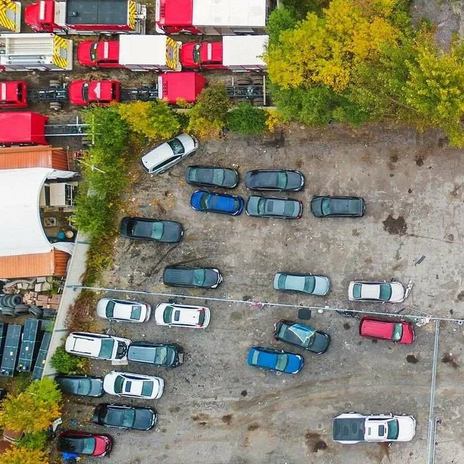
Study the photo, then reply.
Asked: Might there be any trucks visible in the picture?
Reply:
Yes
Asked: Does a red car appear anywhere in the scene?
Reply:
Yes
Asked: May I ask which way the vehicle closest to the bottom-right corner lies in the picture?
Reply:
horizontally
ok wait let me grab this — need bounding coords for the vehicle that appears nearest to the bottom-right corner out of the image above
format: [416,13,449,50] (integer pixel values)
[329,413,416,444]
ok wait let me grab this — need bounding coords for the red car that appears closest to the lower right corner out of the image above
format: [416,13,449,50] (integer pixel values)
[358,316,417,346]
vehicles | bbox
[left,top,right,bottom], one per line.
[54,432,115,458]
[92,404,159,432]
[245,345,306,377]
[273,270,331,297]
[118,216,185,245]
[158,0,277,40]
[182,35,277,78]
[358,316,417,346]
[124,341,187,368]
[70,76,159,109]
[60,332,130,368]
[103,372,166,399]
[51,375,104,399]
[310,191,366,219]
[185,164,240,189]
[136,133,200,176]
[244,165,305,193]
[0,81,68,116]
[189,188,246,217]
[347,279,406,305]
[0,34,76,75]
[271,318,334,355]
[25,0,152,39]
[0,114,104,149]
[160,262,224,291]
[245,191,304,221]
[154,301,213,328]
[329,413,416,444]
[79,35,186,75]
[96,297,153,323]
